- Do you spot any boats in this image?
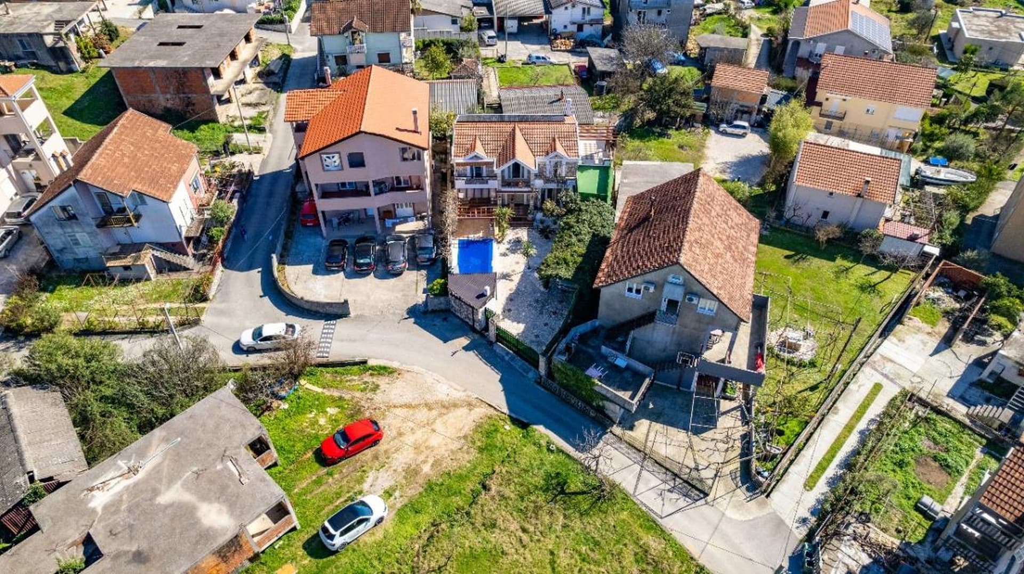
Yes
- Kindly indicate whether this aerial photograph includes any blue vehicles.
Yes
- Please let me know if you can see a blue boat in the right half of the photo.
No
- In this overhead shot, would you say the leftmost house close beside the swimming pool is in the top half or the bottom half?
top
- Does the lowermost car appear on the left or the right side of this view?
left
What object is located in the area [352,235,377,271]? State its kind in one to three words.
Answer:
car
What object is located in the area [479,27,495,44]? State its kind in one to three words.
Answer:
car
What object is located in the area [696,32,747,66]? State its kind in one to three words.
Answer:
shed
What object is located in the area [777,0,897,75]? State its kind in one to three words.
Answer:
house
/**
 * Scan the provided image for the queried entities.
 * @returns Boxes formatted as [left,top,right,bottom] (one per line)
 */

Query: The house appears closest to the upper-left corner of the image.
[0,0,120,67]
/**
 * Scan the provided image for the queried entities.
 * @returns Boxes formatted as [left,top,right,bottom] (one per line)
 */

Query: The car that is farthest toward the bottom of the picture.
[315,493,394,555]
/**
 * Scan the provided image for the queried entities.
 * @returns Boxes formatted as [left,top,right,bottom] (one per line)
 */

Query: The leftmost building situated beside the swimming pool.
[284,58,433,240]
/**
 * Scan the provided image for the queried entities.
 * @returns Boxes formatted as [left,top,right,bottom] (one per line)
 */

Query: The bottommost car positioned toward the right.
[715,116,756,137]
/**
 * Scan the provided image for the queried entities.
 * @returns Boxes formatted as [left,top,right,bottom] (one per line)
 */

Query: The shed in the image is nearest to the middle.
[448,273,497,335]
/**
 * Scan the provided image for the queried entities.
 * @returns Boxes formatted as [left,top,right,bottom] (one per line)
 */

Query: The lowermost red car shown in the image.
[318,417,387,467]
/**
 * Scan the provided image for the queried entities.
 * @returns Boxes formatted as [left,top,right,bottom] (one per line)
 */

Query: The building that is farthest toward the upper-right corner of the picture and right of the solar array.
[923,3,1024,68]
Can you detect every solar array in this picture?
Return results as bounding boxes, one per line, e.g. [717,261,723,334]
[856,2,891,47]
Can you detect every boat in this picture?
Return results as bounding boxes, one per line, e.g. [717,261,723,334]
[910,161,987,188]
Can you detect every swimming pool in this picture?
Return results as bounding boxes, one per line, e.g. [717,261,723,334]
[447,236,497,290]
